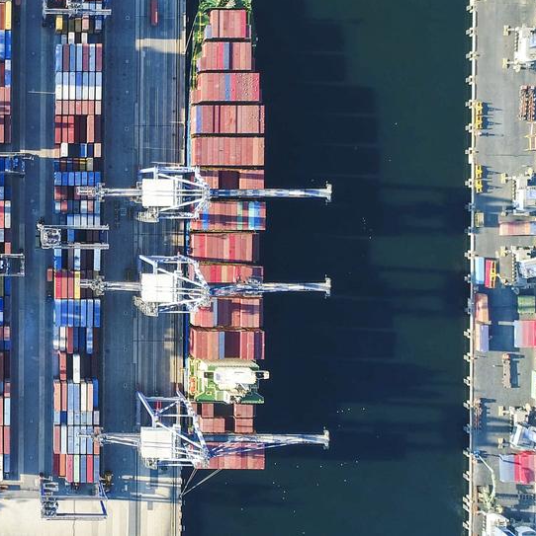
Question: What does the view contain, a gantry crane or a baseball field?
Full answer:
There is a gantry crane in the scene.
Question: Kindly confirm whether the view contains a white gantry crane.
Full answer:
Yes, a white gantry crane is visible in the scene.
